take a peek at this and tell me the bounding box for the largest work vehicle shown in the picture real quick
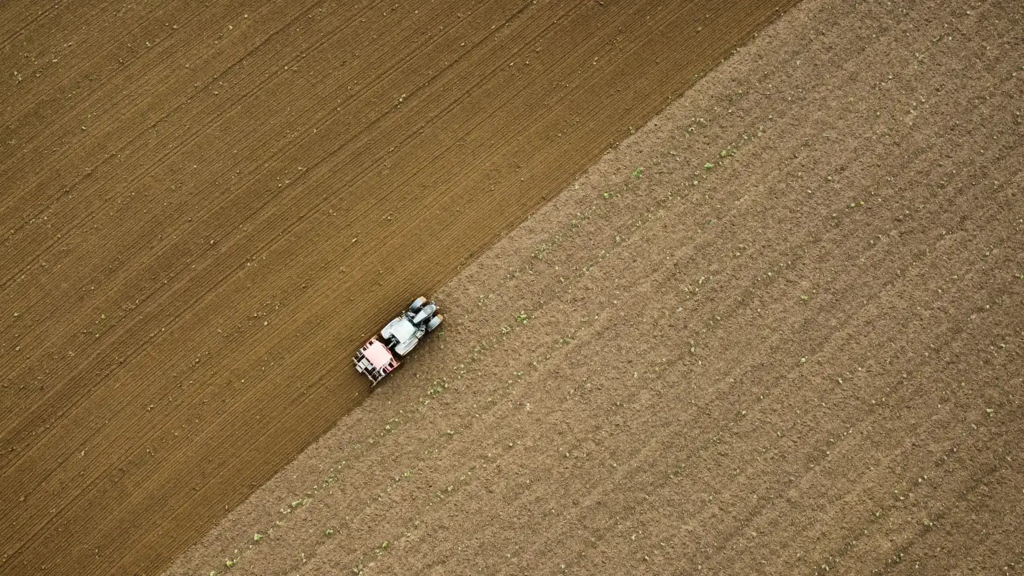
[380,296,443,356]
